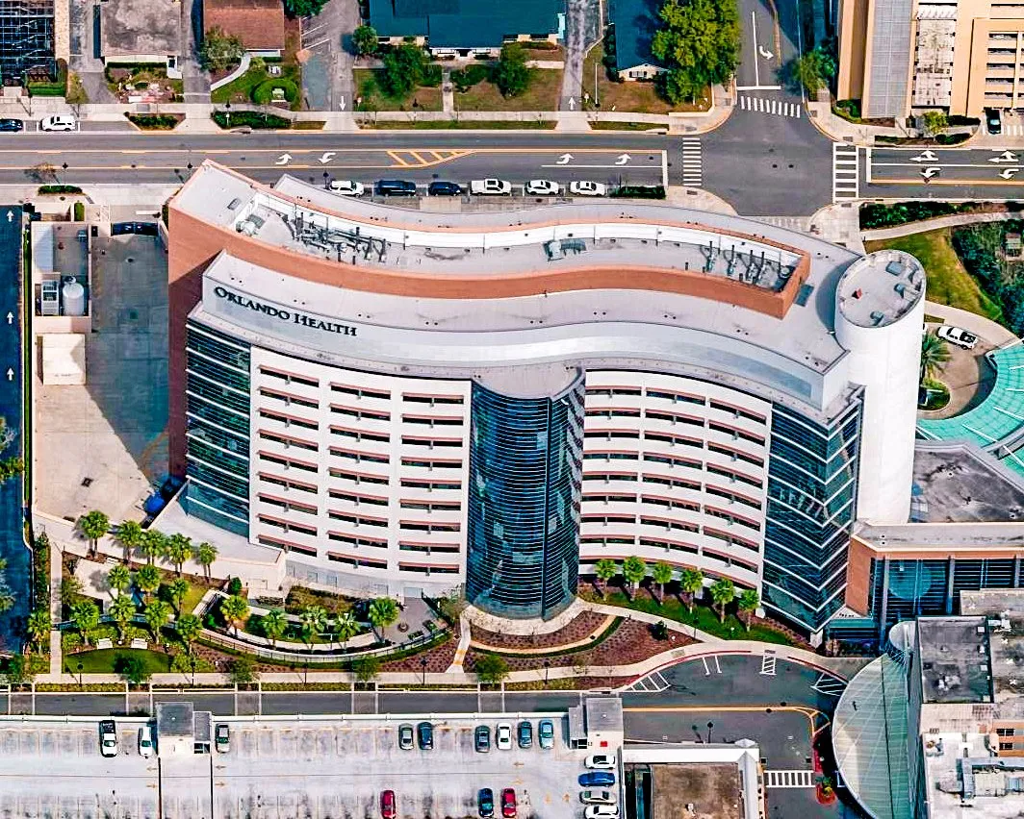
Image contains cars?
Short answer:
Yes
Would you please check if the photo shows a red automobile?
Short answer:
Yes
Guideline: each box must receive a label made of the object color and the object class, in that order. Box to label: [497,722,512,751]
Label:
white car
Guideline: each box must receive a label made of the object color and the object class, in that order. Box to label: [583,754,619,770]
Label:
white car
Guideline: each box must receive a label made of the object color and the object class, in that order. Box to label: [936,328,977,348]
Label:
white vehicle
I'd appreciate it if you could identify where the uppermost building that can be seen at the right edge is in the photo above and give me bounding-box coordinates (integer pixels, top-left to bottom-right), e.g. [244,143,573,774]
[851,0,1024,117]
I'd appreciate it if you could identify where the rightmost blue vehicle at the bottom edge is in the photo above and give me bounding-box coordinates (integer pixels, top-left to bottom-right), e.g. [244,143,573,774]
[578,770,616,788]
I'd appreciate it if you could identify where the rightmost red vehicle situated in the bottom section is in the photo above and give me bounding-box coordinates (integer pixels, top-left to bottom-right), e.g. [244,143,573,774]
[501,789,517,818]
